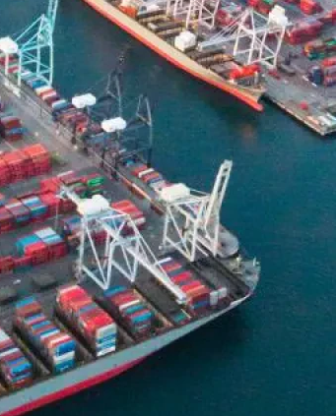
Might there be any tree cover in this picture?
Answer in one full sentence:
No, the scene doesn't show any tree cover.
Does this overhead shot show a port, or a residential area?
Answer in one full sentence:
The area seen from above is a port.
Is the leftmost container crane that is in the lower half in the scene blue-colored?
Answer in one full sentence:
No, the leftmost container crane that is in the lower half is actually white.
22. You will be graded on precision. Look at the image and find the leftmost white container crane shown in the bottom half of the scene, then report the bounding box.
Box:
[65,195,194,308]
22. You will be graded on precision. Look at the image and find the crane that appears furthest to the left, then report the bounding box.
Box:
[0,0,61,94]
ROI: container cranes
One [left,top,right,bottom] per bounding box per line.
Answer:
[167,0,209,28]
[135,0,227,36]
[187,6,305,74]
[155,157,238,272]
[110,71,181,189]
[79,41,149,161]
[0,0,61,94]
[65,195,194,308]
